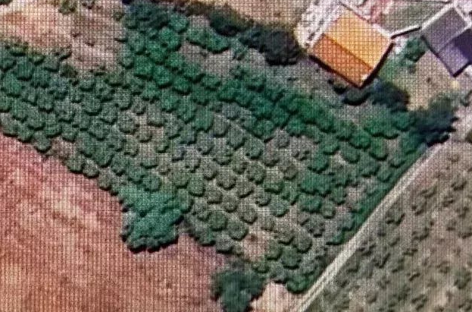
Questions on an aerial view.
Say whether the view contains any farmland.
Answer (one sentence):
Yes, some farmland is visible.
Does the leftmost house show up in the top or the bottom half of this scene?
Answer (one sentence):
The top half of the photo is where the leftmost house is.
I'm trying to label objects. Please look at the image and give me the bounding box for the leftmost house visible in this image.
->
[310,0,392,87]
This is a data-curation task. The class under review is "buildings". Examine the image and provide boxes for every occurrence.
[421,0,472,76]
[310,0,392,87]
